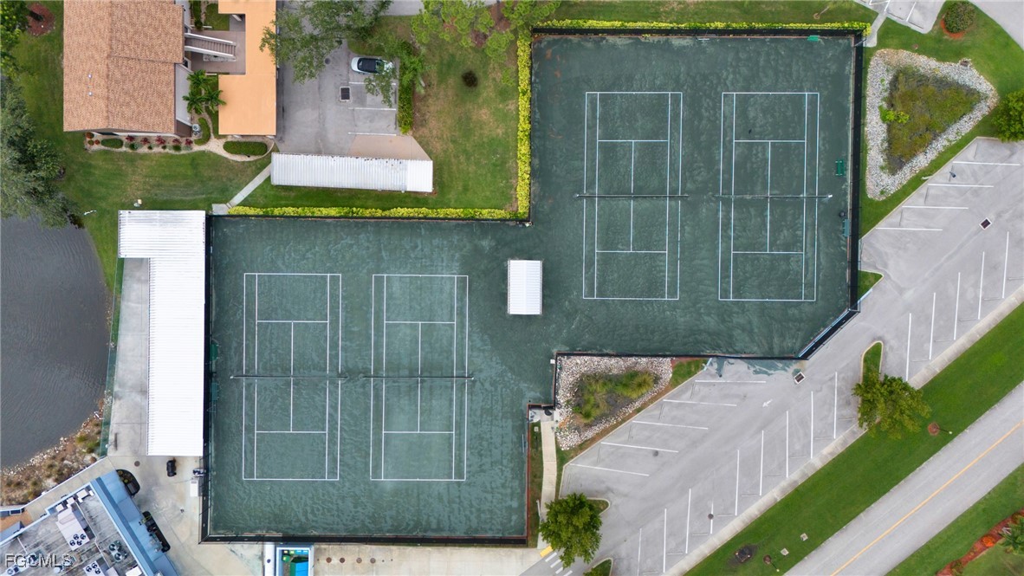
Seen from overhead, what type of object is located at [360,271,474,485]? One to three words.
tennis court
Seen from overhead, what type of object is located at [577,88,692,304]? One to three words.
tennis court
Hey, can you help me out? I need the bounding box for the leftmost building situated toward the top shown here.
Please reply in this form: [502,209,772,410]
[65,0,193,137]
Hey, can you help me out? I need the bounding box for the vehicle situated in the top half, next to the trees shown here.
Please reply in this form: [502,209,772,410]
[350,54,391,75]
